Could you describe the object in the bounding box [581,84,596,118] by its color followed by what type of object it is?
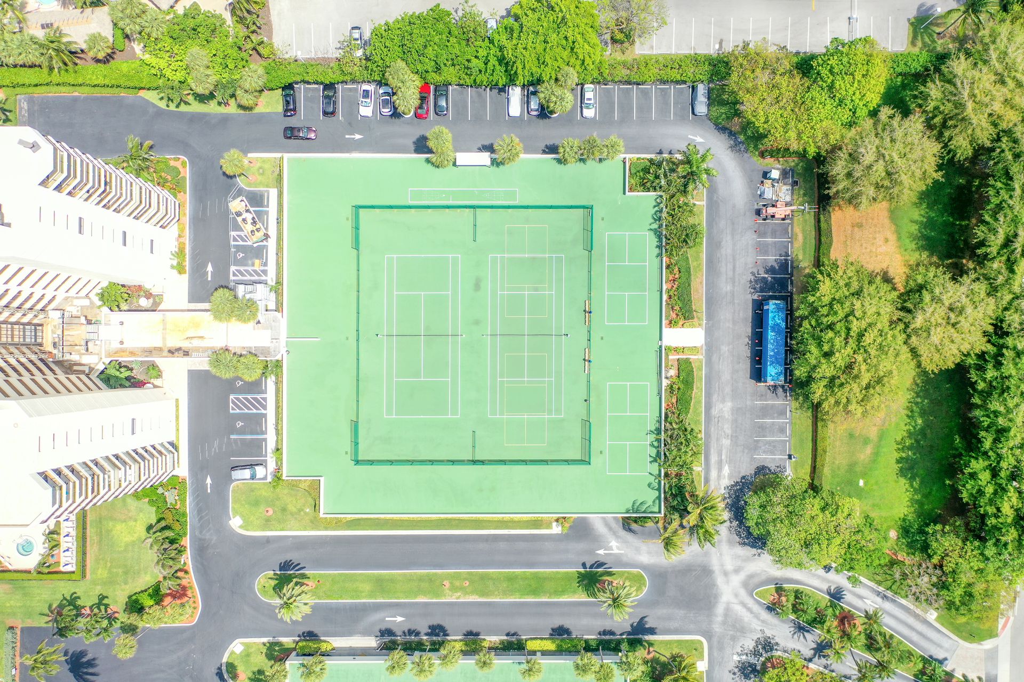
white car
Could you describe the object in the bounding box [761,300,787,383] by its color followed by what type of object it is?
blue trailer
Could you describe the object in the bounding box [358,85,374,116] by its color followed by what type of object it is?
white car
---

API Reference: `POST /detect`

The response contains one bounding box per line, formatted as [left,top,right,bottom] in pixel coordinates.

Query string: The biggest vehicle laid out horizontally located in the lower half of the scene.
[231,464,266,480]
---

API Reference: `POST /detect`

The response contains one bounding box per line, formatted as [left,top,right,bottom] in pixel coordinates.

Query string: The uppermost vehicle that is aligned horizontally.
[283,124,317,140]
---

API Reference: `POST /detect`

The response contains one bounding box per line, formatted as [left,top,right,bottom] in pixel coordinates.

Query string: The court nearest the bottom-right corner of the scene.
[607,383,649,474]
